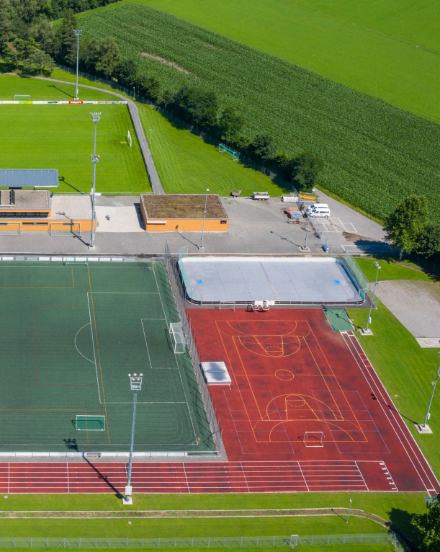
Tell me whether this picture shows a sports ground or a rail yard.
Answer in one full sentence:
The picture captures a sports ground.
